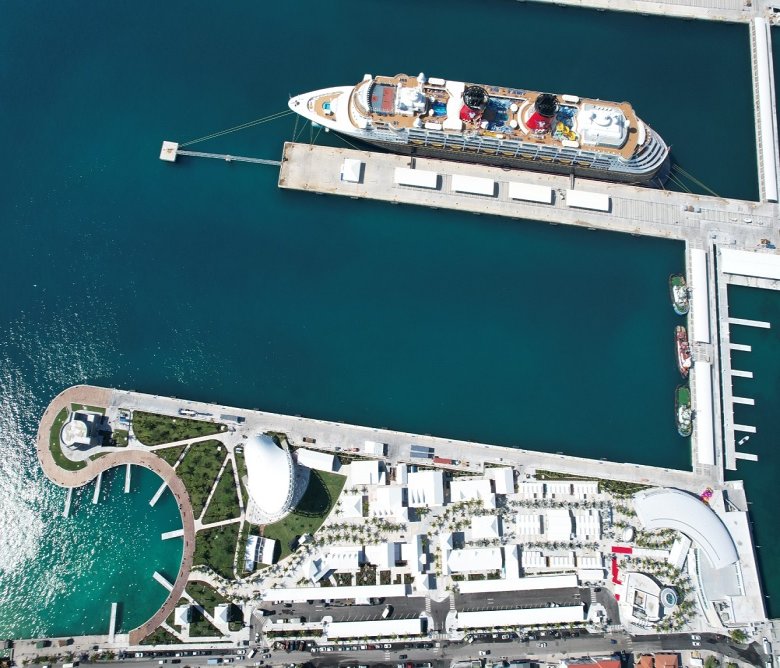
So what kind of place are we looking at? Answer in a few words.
port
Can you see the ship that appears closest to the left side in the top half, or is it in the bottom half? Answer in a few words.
top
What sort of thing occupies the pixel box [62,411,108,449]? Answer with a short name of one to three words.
house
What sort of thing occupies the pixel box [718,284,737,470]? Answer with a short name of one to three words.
pier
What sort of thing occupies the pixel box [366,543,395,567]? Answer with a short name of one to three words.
building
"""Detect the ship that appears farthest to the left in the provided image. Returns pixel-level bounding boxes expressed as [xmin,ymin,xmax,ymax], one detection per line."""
[287,70,677,184]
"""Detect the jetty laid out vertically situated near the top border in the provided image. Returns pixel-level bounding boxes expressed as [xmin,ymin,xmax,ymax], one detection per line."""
[748,16,780,206]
